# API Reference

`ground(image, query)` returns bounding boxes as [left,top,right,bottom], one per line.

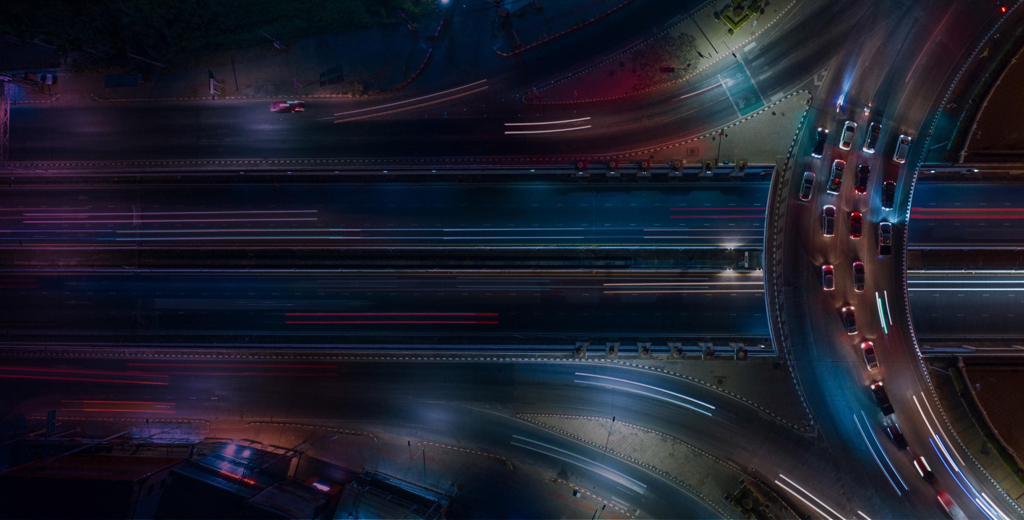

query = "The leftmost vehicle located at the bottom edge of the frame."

[621,472,650,495]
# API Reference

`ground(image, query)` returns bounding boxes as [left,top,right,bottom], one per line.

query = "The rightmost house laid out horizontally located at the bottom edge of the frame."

[337,464,454,520]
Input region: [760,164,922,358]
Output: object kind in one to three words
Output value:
bridge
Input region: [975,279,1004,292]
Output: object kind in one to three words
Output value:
vehicle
